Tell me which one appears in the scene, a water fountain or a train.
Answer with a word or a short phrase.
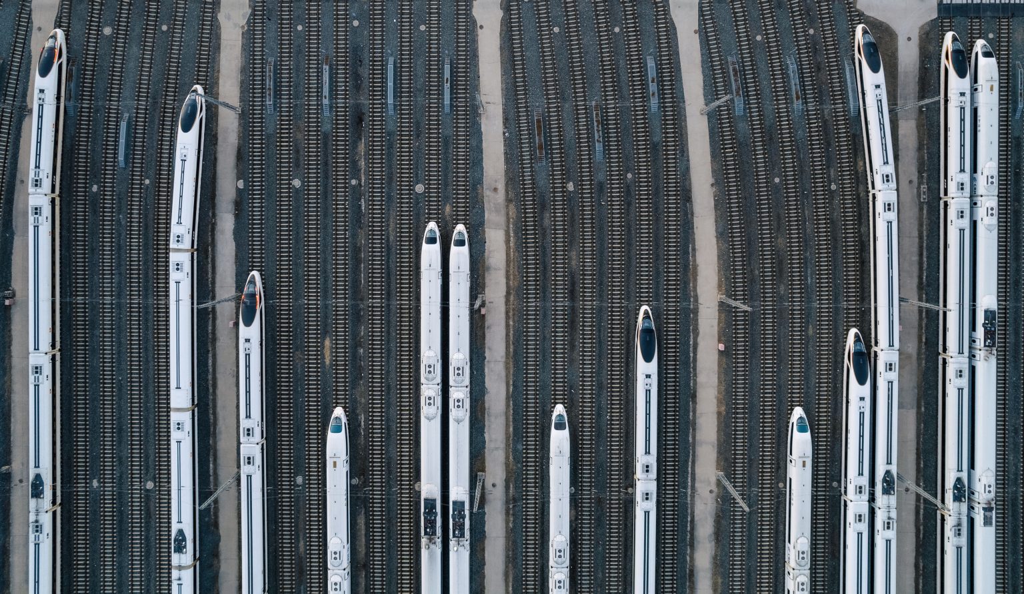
train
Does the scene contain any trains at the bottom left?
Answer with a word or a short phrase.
Yes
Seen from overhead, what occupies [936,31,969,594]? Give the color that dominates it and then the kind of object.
white train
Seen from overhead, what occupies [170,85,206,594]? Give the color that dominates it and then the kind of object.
white train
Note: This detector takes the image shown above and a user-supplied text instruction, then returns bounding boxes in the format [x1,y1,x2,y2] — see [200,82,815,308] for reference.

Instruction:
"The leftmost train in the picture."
[29,29,68,594]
